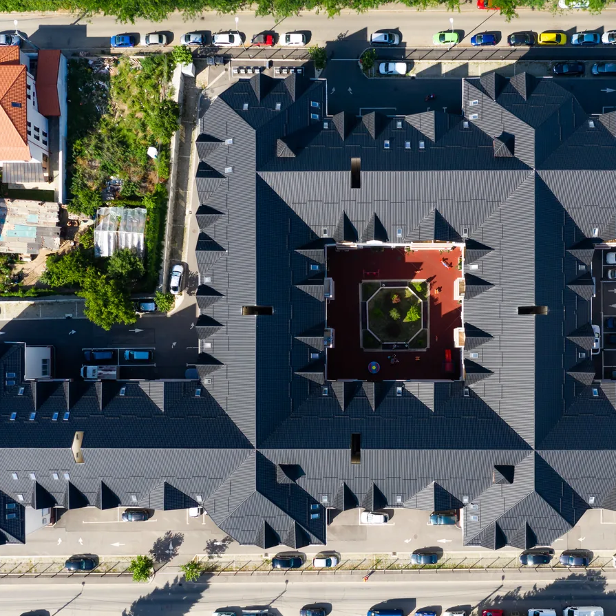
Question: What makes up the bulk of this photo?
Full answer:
The largest share of the image is taken up by buildings.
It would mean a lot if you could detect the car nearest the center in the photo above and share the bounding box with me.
[170,266,183,295]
